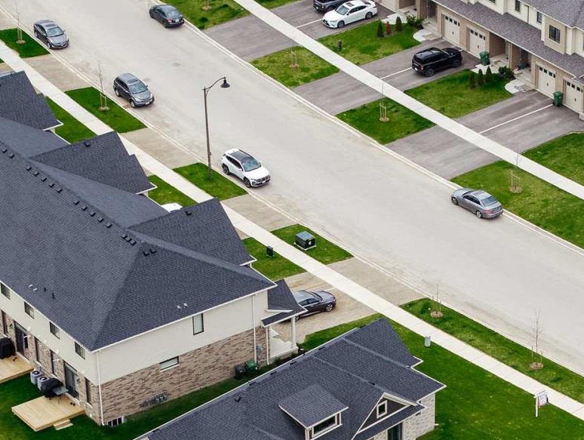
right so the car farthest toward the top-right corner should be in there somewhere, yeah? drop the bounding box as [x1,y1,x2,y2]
[411,46,465,77]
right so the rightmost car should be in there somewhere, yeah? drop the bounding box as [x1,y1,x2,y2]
[448,186,506,219]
